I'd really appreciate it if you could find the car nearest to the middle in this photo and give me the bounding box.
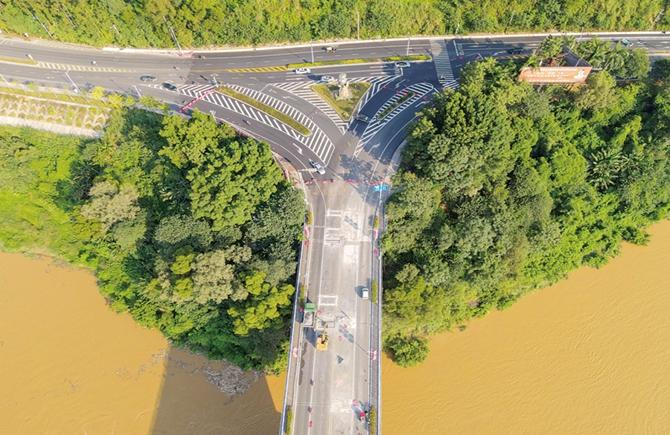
[309,158,326,174]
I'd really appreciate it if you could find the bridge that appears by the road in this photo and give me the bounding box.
[281,189,383,435]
